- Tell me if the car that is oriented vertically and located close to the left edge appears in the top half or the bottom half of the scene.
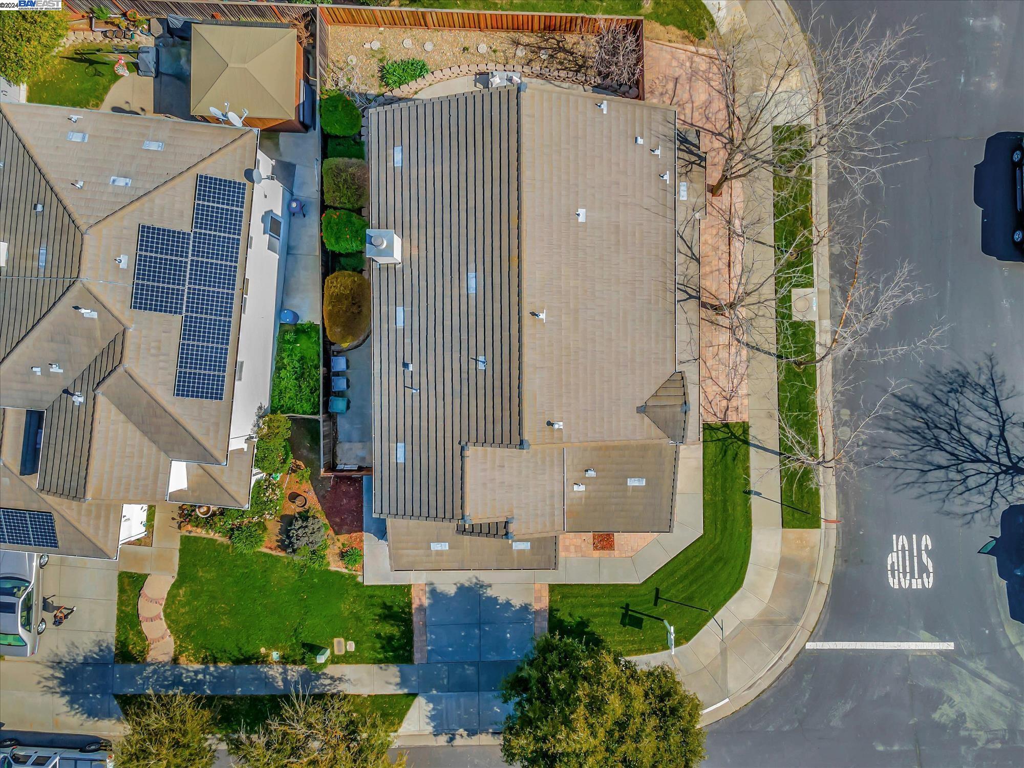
bottom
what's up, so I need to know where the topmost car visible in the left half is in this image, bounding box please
[0,553,47,659]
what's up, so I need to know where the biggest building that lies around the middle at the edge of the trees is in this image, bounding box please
[365,82,709,572]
